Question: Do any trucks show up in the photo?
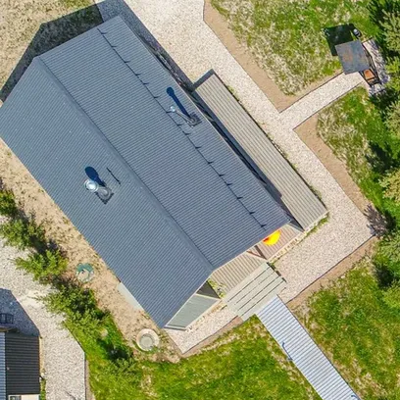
No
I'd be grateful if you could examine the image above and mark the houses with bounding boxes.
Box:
[0,17,330,328]
[0,328,40,400]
